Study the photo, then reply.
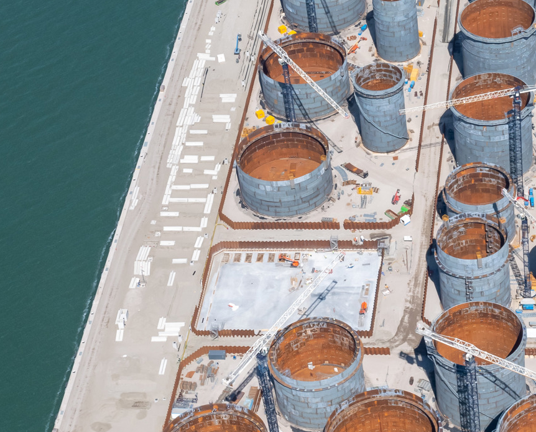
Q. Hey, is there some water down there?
Yes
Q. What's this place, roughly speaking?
industrial area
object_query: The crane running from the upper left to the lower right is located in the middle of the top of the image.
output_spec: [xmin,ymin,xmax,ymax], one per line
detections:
[254,30,348,123]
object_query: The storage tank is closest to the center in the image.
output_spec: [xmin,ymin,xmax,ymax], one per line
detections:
[237,122,336,218]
